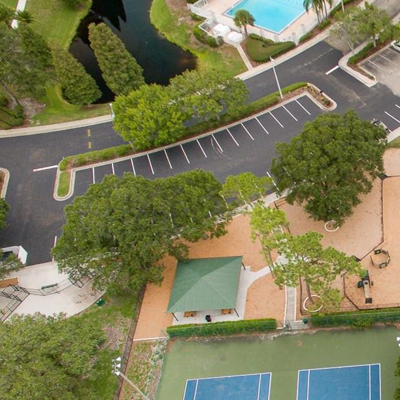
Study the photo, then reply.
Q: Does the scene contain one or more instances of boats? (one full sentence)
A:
No, the picture doesn't show any boat.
